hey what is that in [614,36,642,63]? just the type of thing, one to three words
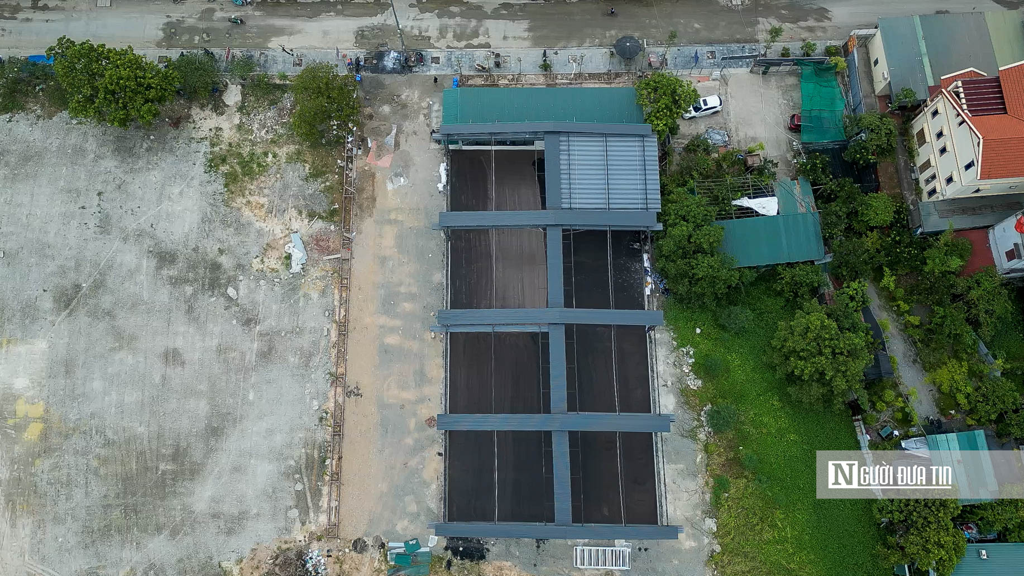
umbrella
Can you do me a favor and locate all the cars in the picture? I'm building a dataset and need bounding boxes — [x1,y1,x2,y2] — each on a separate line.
[684,93,727,124]
[784,112,801,133]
